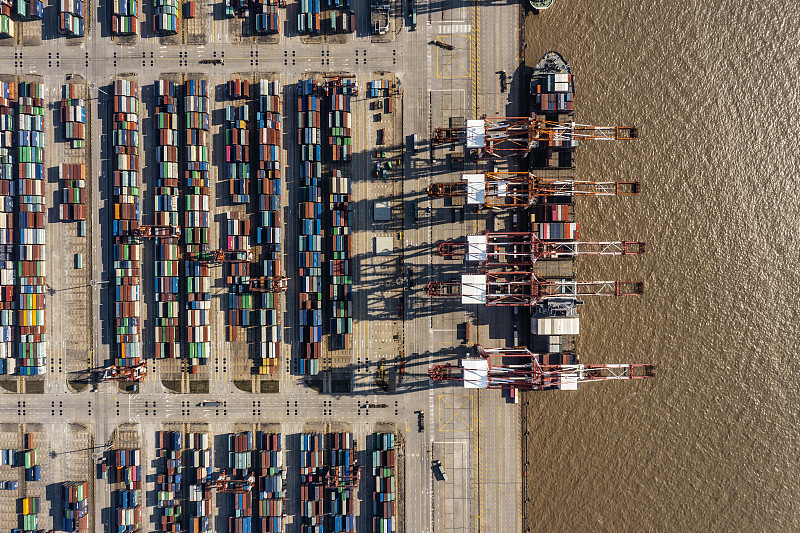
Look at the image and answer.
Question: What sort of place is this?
port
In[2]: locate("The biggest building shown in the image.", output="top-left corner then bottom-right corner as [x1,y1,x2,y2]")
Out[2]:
[371,8,390,35]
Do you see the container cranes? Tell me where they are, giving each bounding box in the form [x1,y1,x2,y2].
[427,342,656,393]
[251,276,288,292]
[438,230,646,270]
[215,468,255,492]
[427,267,645,309]
[324,76,359,98]
[427,171,641,216]
[430,116,638,166]
[326,465,361,488]
[139,224,183,241]
[103,362,146,381]
[213,248,254,264]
